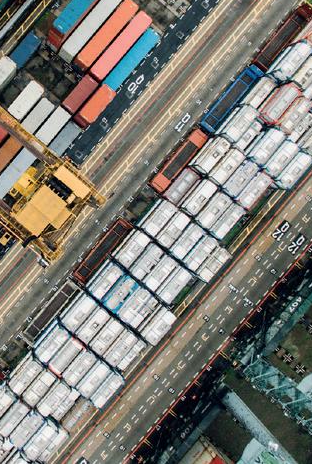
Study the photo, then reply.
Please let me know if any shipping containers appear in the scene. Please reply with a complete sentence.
Yes, this view includes a shipping container.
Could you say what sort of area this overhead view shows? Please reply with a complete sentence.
This image shows an industrial area.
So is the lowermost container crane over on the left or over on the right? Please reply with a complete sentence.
The lowermost container crane sits on the right side.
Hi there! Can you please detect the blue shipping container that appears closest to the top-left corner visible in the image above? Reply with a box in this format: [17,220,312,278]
[7,26,44,70]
